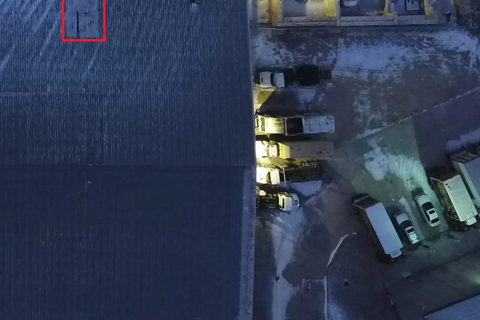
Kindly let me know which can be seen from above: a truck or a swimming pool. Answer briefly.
truck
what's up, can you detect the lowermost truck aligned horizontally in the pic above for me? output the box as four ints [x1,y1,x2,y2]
[255,187,300,211]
